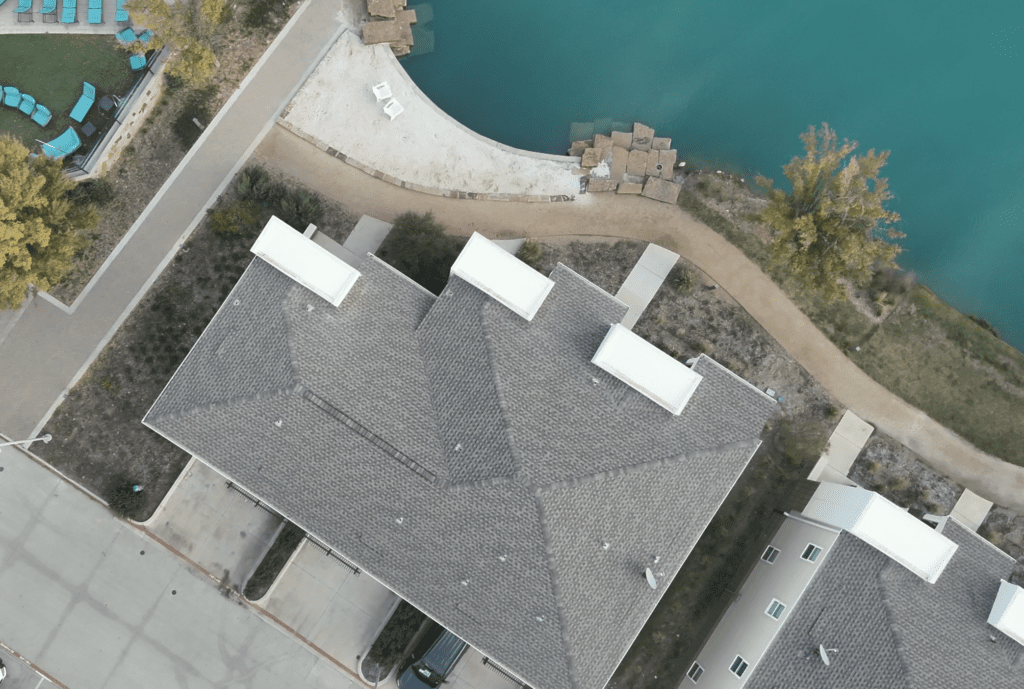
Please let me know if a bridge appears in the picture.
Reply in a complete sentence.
No, no bridge is visible in the scene.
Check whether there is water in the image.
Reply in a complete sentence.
Yes, there is water in the image.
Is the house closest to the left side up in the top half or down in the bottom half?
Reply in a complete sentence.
The bottom half of the photo is where the house closest to the left side is.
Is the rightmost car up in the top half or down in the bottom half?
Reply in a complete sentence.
The rightmost car sits in the bottom half of the picture.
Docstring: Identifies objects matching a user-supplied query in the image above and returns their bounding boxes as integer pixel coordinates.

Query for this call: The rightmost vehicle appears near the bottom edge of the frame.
[399,624,471,689]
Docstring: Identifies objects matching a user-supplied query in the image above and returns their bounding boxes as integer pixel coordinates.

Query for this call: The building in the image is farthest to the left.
[142,214,776,689]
